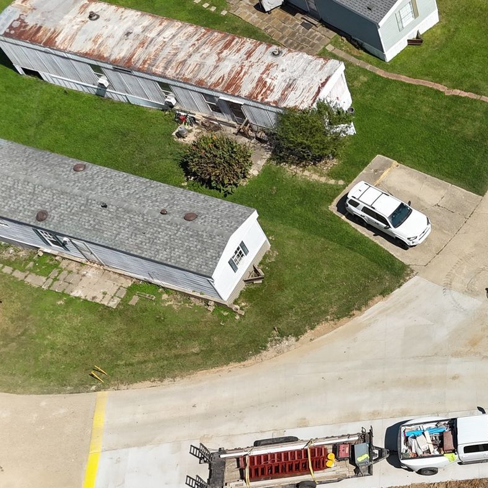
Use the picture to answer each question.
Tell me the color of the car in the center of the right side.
white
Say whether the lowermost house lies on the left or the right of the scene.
left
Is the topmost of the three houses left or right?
right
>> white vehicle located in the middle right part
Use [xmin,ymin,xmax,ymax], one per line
[344,180,432,249]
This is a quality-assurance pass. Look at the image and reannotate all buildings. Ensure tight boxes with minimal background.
[0,141,270,304]
[0,0,360,143]
[287,0,442,63]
